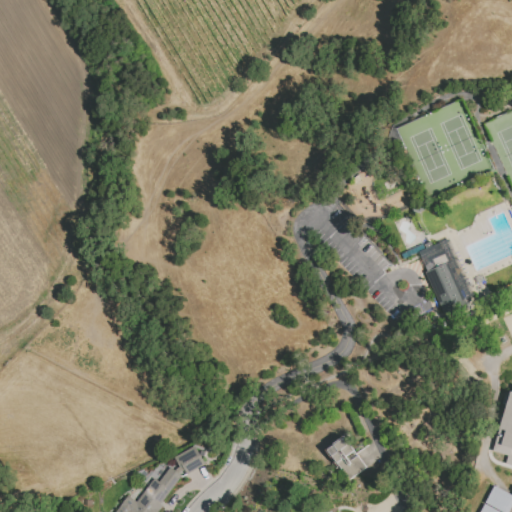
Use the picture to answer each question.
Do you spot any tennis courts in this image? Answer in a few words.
Yes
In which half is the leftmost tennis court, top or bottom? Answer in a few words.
top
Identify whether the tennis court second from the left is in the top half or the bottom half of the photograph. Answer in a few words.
top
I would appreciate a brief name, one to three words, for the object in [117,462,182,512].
house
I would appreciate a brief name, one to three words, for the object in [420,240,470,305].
building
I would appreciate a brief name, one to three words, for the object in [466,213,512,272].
swimming pool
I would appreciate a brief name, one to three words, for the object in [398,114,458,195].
tennis court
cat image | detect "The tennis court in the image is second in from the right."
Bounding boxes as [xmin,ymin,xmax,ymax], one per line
[430,102,488,178]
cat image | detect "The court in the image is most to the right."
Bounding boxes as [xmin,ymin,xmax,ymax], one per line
[486,112,512,182]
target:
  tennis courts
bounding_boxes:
[486,112,512,182]
[398,114,458,195]
[430,102,488,178]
